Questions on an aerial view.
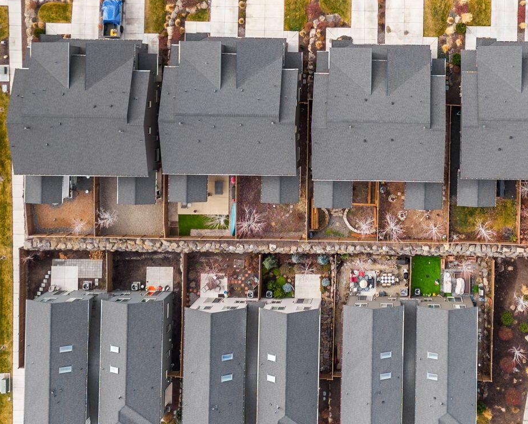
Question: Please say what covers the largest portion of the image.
buildings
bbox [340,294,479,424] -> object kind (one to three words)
house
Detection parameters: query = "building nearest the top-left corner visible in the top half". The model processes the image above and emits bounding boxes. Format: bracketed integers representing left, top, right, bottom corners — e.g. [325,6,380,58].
[9,33,164,205]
